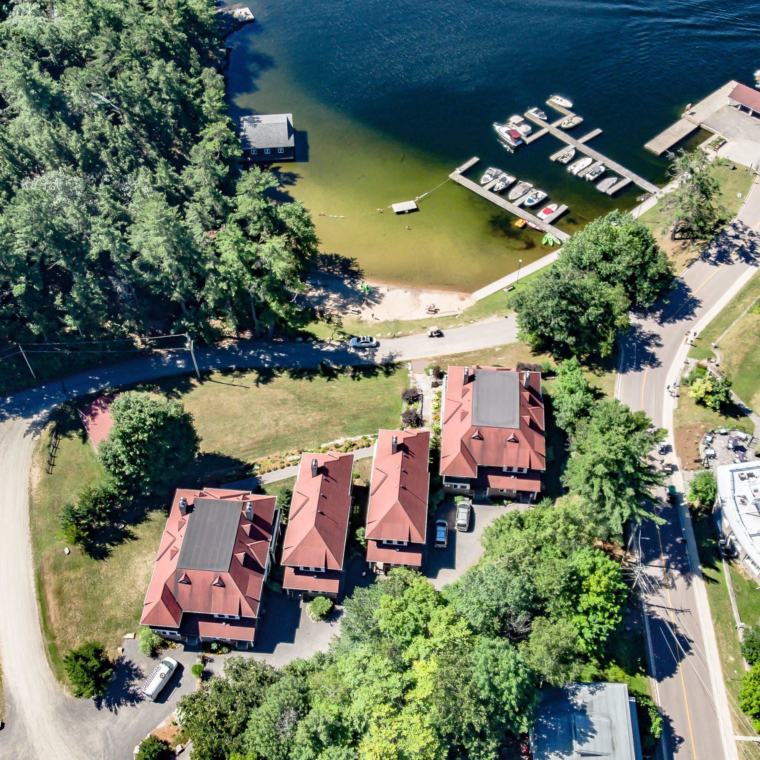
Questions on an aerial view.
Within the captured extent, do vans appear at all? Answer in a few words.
Yes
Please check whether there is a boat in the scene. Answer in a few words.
Yes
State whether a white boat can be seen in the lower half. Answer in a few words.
No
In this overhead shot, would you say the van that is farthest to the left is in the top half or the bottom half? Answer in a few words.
bottom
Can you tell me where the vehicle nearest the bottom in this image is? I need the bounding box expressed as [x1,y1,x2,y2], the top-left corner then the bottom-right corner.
[141,655,177,700]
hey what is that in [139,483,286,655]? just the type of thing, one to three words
house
